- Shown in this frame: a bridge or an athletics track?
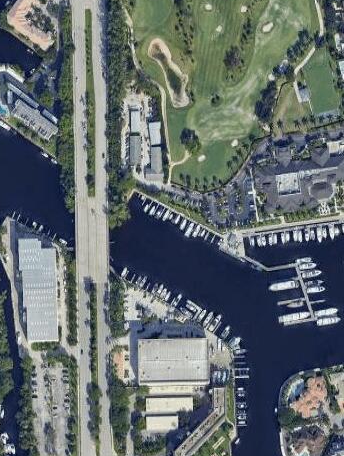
bridge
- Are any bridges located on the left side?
Yes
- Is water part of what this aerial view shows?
Yes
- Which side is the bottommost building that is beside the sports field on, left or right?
right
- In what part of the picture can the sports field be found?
top right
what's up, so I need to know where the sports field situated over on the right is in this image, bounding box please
[276,53,342,133]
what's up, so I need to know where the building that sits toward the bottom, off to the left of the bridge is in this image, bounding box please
[19,238,58,343]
